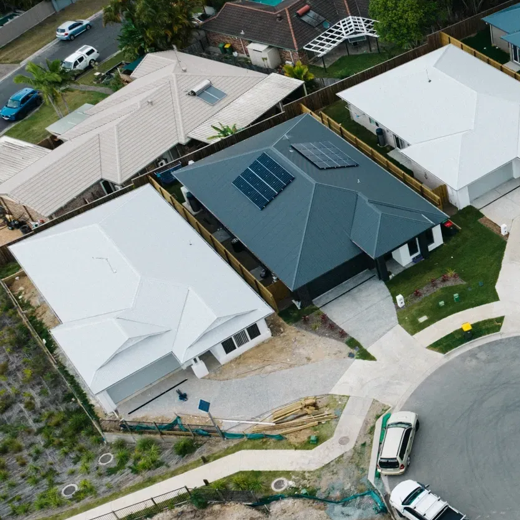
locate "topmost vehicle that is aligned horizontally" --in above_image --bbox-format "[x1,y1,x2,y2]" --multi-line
[55,20,93,40]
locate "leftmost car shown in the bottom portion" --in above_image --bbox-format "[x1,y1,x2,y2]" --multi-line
[377,415,418,477]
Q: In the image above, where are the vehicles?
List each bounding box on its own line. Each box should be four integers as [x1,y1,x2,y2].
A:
[0,89,46,120]
[56,43,103,74]
[390,478,467,520]
[377,415,418,477]
[55,20,93,40]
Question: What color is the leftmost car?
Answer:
blue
